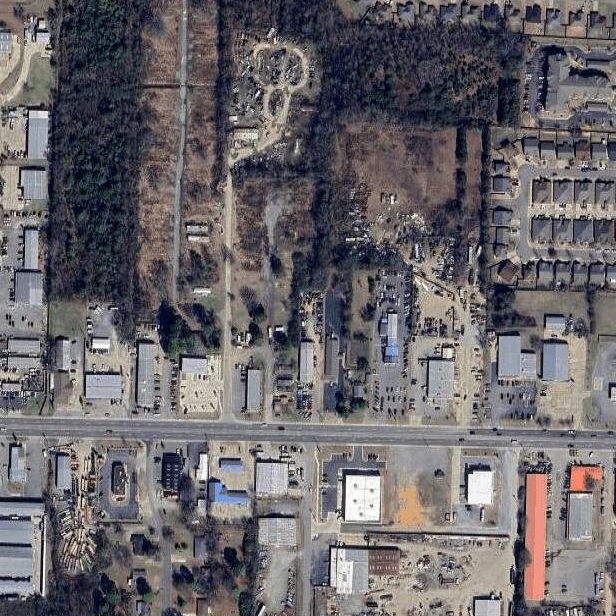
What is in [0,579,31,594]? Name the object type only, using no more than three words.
building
